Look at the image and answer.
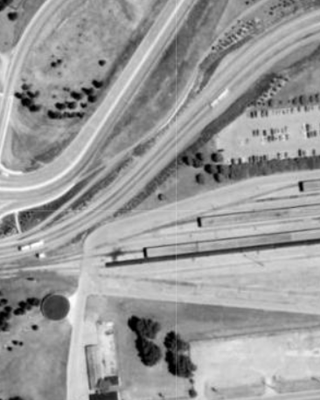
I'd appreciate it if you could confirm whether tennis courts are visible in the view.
No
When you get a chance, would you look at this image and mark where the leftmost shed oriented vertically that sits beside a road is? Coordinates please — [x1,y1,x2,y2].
[86,346,99,391]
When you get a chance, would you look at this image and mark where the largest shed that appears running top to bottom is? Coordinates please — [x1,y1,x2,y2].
[97,320,116,379]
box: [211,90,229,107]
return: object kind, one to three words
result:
vehicle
